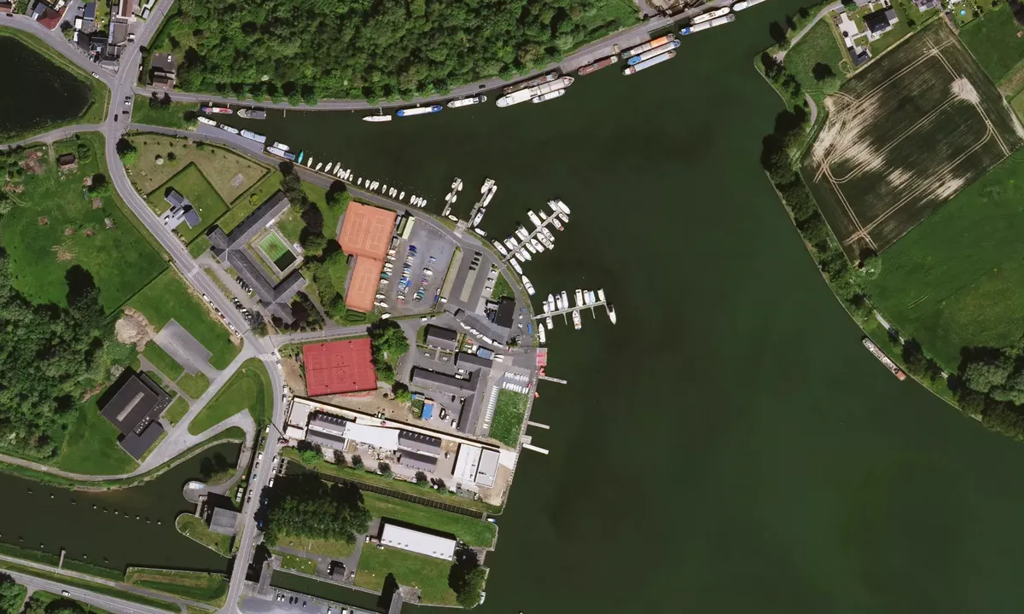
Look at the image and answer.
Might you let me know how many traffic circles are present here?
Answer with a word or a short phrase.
0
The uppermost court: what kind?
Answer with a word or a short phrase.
tennis court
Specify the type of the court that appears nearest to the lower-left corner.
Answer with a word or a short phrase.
tennis court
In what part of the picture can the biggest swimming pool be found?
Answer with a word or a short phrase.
left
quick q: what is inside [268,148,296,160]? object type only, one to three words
boat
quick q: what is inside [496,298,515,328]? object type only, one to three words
building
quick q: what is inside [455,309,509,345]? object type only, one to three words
shed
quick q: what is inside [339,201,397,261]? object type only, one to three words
tennis court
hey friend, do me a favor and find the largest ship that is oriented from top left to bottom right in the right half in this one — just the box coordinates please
[862,339,907,380]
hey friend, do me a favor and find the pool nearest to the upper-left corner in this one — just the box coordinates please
[252,226,304,278]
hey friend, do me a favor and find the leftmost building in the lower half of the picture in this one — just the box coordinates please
[99,374,171,460]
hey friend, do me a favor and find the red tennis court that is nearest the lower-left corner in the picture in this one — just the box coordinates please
[303,338,377,396]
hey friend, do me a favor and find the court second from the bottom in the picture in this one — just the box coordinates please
[347,258,383,312]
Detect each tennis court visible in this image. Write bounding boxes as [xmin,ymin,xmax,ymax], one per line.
[347,258,383,312]
[303,338,377,396]
[339,201,397,261]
